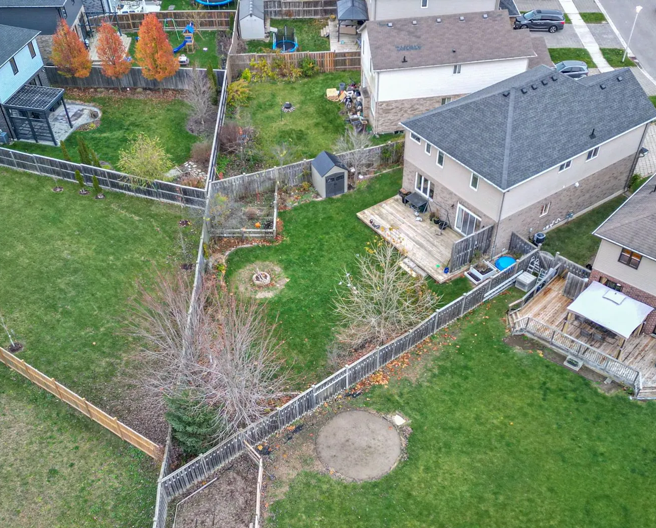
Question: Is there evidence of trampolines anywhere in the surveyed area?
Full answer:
Yes, looking at the shot, I can spot a trampoline.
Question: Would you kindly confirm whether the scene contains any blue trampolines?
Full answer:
Yes, looking at the shot, I can spot a blue trampoline.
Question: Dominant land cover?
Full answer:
The largest share of the image is taken up by grass.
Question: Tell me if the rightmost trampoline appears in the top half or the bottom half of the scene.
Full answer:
It is in the top half that the rightmost trampoline appears.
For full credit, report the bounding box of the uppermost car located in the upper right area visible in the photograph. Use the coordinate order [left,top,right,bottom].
[511,6,561,32]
